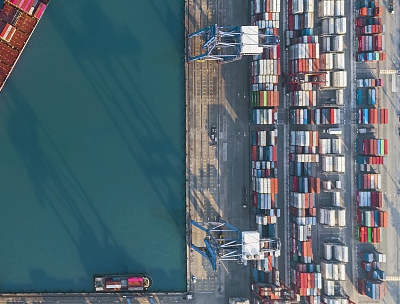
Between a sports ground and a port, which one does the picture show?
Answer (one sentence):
This looks like a port.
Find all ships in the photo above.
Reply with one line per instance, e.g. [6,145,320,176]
[0,0,50,91]
[94,274,152,291]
